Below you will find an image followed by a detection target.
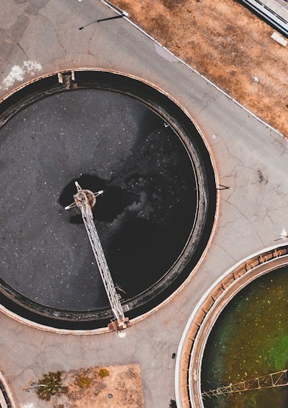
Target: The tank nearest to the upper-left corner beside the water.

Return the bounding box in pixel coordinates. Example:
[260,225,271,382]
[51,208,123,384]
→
[0,67,221,334]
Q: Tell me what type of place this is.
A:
industrial area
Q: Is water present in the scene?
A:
Yes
